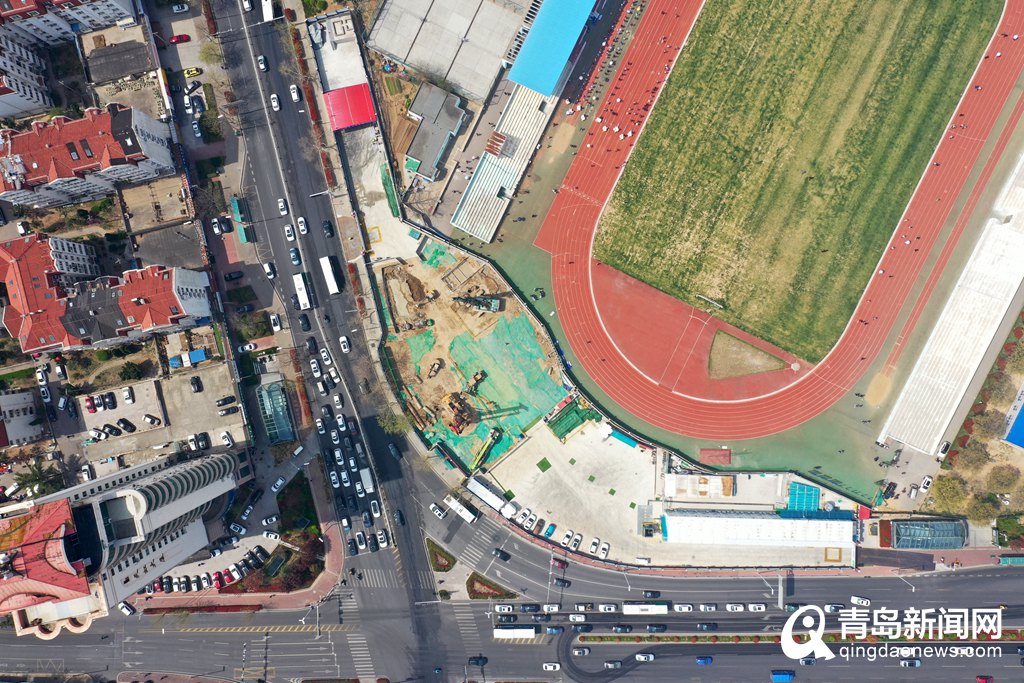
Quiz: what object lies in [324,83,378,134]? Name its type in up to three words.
shed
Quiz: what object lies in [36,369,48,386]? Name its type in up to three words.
vehicle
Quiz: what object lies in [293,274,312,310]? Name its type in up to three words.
vehicle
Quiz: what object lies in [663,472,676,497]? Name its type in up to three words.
building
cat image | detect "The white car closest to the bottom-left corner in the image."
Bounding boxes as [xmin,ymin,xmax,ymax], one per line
[117,601,135,617]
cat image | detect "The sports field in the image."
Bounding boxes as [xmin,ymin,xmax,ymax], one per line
[592,0,1004,366]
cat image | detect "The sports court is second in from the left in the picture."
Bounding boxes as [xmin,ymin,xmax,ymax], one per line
[407,0,481,81]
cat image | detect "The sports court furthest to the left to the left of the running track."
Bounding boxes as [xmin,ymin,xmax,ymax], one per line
[368,0,431,60]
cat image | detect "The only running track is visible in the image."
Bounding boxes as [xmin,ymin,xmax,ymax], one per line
[533,0,1024,440]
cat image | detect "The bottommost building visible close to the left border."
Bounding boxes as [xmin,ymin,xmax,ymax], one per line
[0,444,262,638]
